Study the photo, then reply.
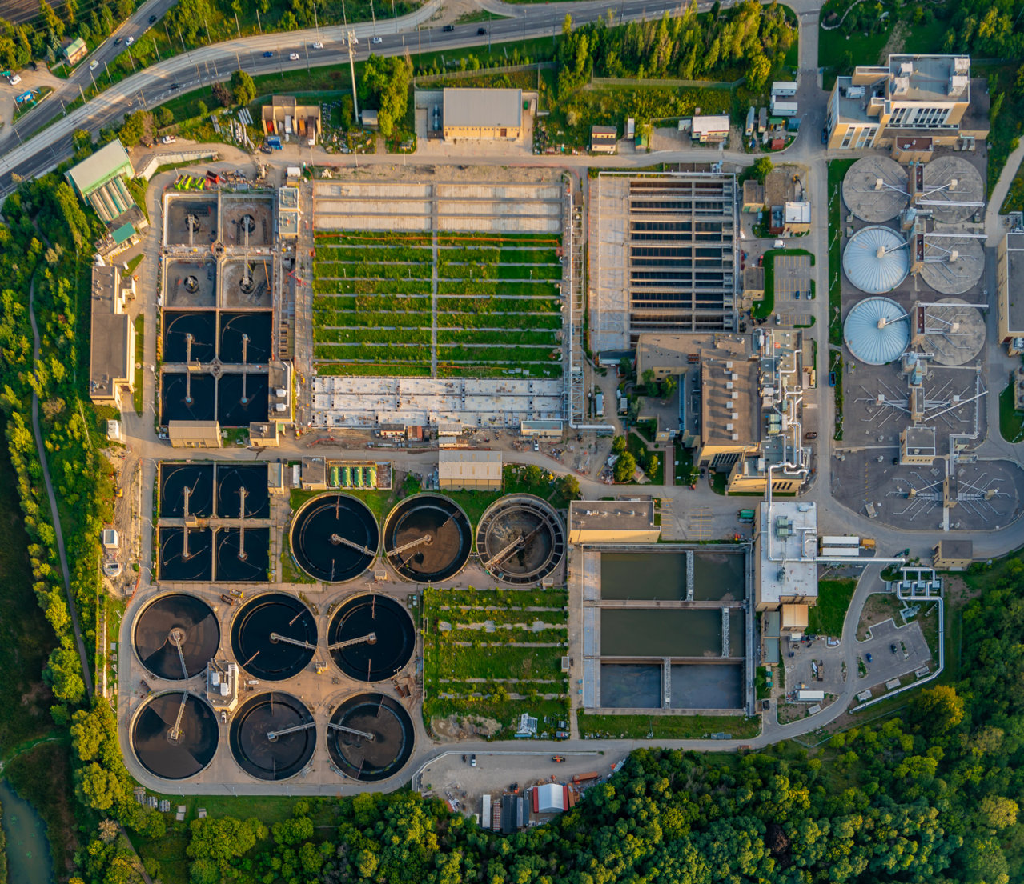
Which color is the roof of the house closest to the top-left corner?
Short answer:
green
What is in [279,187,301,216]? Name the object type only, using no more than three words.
building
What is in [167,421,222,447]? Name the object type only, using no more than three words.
shed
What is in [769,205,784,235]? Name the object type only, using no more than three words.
house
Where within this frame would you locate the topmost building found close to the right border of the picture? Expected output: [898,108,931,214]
[828,55,989,162]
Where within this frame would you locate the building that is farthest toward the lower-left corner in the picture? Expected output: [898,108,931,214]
[208,657,240,711]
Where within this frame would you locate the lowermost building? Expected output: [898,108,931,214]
[538,783,563,813]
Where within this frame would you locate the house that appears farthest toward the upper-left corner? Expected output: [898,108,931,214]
[64,33,90,67]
